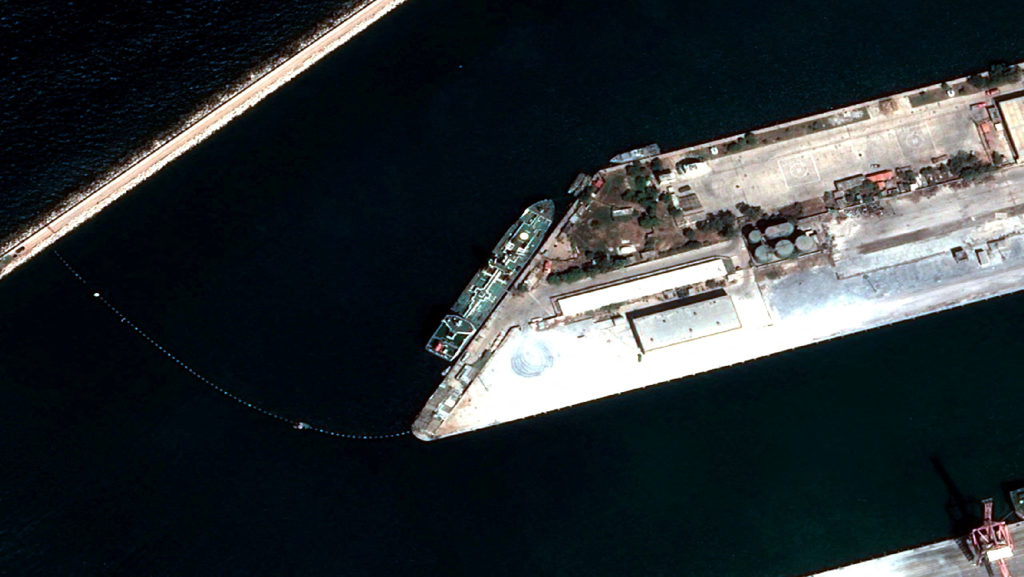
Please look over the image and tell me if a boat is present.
Yes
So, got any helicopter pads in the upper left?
No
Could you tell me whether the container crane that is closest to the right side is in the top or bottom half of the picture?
bottom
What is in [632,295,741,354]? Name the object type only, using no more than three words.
building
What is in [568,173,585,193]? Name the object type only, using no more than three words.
boat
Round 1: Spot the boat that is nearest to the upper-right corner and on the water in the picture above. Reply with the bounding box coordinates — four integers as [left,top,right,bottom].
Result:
[610,143,660,163]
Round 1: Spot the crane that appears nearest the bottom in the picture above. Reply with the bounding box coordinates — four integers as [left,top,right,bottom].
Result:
[963,501,1013,577]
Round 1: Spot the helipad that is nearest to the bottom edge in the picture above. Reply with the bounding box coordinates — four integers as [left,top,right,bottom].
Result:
[778,152,820,187]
